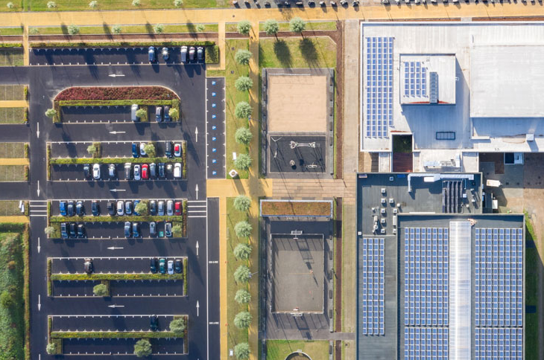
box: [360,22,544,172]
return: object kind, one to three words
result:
building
